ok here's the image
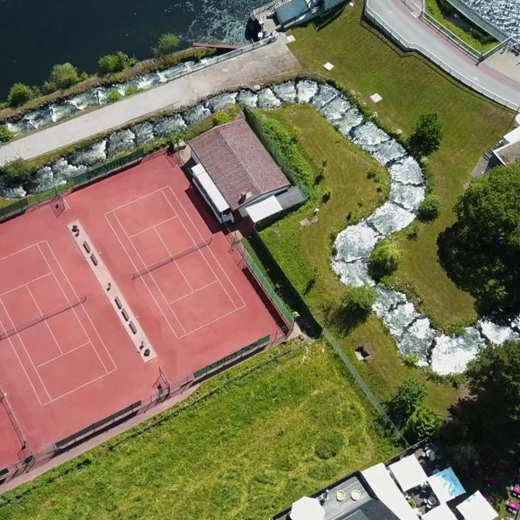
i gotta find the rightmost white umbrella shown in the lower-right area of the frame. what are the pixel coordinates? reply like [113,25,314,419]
[457,491,499,520]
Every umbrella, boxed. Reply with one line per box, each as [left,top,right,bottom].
[422,505,456,520]
[389,455,427,492]
[286,494,328,520]
[457,491,499,520]
[429,468,466,503]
